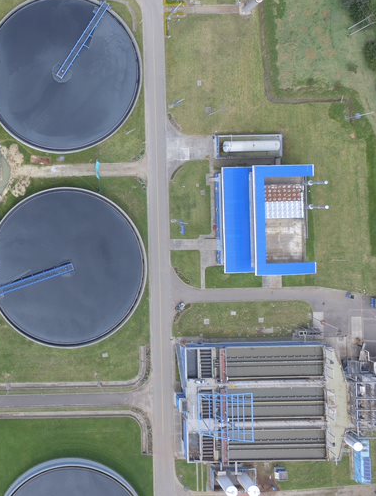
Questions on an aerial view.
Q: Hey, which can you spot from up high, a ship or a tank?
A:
tank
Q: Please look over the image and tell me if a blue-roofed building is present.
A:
Yes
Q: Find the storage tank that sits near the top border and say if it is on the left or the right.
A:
left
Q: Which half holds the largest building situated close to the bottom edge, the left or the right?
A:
right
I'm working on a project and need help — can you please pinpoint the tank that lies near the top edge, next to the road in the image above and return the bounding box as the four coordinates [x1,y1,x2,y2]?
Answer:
[0,0,142,153]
